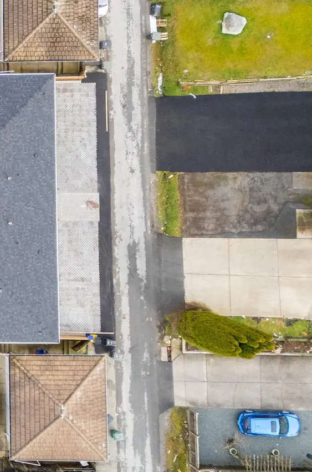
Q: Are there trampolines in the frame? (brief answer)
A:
No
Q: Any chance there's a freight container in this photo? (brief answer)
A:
No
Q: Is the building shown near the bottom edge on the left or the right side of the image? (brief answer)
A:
left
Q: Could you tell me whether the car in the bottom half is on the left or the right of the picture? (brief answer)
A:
right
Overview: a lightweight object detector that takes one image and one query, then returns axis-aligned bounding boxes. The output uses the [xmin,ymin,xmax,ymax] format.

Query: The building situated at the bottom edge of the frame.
[1,352,109,463]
